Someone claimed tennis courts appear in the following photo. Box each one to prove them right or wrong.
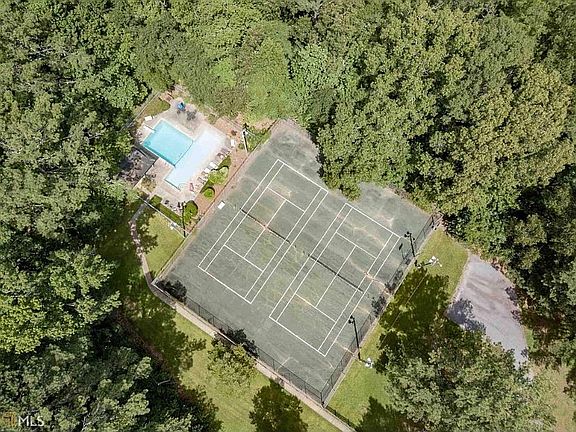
[237,176,434,404]
[152,118,348,344]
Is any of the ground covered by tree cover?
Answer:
Yes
